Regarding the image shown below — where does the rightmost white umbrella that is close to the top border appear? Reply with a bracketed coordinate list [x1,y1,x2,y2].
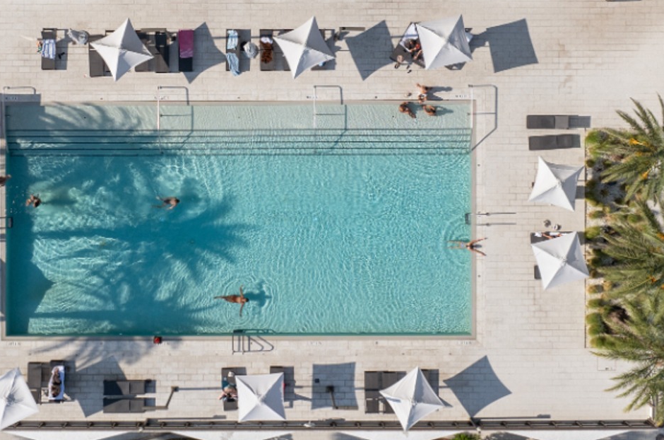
[416,16,471,68]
